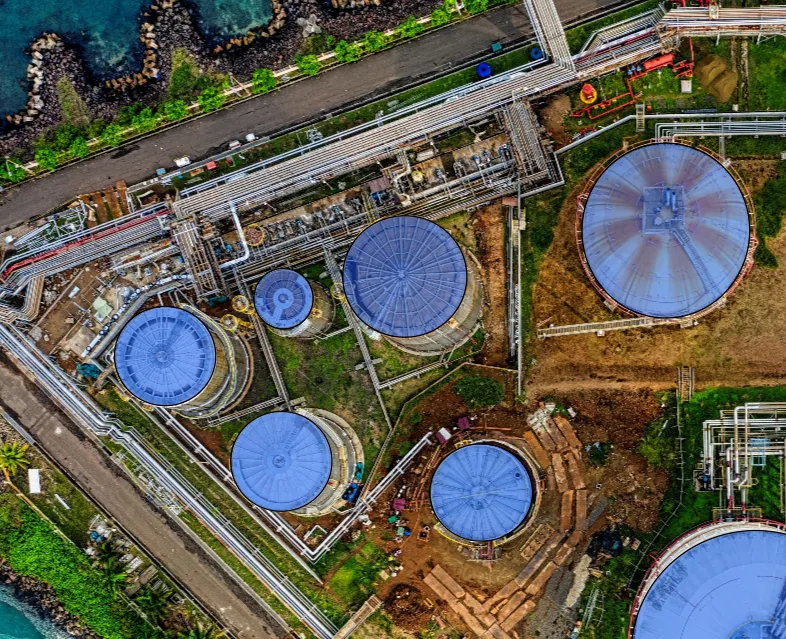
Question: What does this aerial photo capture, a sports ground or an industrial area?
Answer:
industrial area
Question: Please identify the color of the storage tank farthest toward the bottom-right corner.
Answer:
blue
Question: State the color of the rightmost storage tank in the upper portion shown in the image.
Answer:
blue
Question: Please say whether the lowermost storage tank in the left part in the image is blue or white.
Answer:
blue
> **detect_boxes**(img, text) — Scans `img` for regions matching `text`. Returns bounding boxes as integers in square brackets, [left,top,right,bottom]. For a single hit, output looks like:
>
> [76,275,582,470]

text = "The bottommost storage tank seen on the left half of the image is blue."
[230,403,358,512]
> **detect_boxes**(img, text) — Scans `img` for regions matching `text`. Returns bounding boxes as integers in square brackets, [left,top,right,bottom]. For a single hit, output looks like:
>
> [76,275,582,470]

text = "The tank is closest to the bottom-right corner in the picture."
[625,520,786,639]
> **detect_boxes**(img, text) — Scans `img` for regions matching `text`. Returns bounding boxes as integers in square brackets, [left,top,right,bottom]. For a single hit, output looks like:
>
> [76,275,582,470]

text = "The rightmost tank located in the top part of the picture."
[576,135,761,326]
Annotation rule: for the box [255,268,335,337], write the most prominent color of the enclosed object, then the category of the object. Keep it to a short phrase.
blue storage tank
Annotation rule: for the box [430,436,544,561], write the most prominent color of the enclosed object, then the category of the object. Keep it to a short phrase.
blue storage tank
